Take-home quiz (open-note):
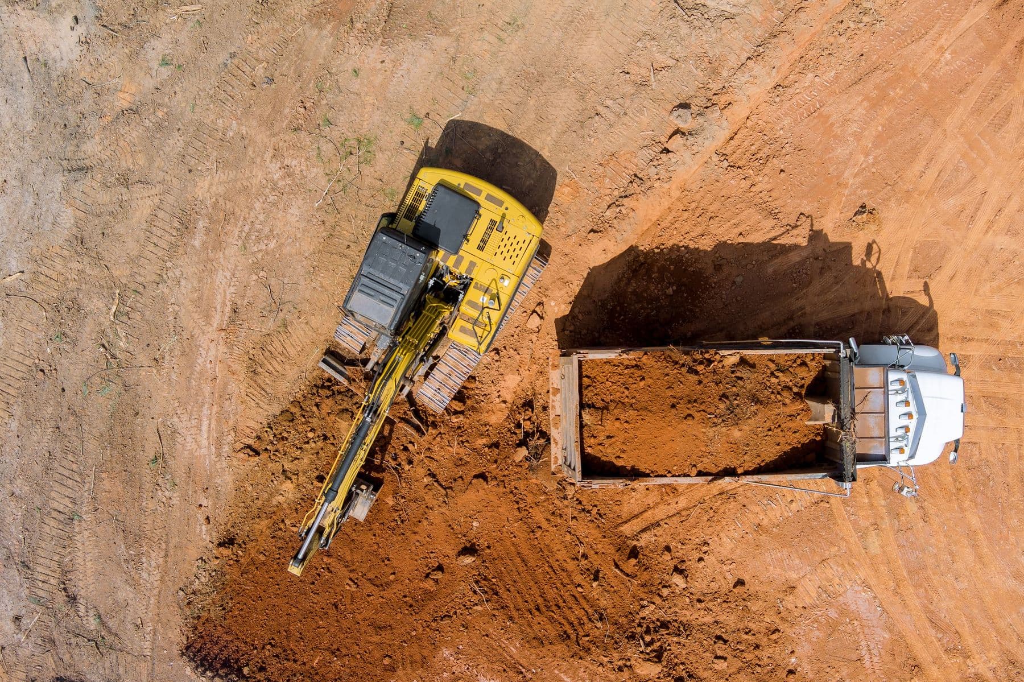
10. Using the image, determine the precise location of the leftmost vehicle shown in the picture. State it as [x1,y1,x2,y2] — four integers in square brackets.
[285,168,547,578]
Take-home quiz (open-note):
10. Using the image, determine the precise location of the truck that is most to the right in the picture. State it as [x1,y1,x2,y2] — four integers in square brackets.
[548,329,967,506]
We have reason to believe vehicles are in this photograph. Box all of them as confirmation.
[285,168,547,578]
[548,329,967,506]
